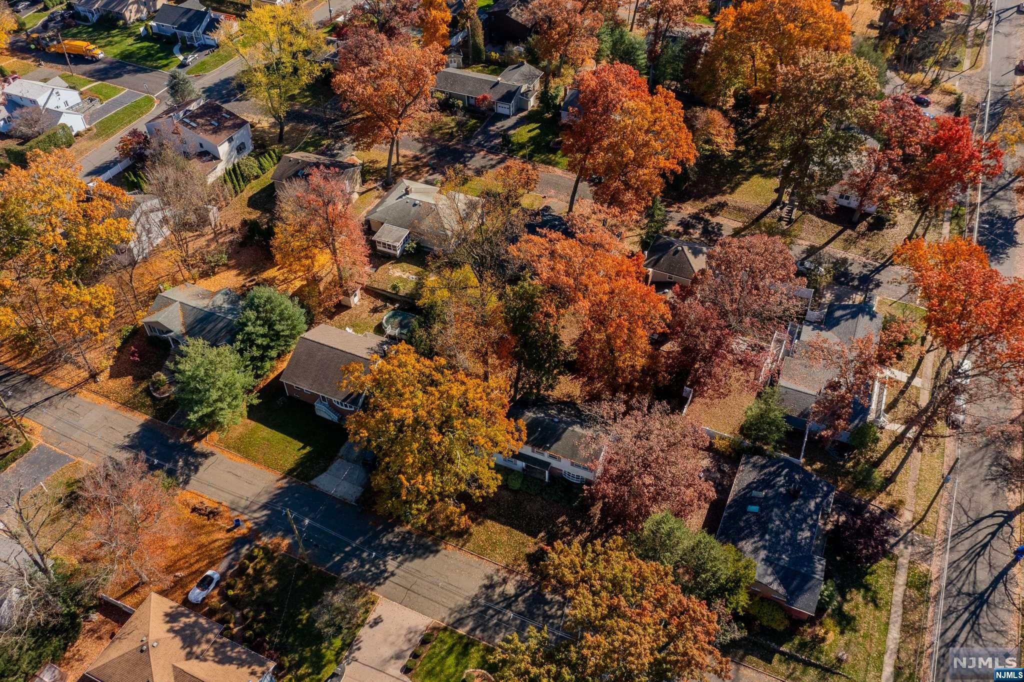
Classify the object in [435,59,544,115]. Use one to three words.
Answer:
house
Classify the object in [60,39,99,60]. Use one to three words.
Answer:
truck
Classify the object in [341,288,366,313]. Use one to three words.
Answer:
shed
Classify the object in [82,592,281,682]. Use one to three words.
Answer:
house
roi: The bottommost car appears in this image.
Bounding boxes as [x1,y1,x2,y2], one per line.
[317,651,352,682]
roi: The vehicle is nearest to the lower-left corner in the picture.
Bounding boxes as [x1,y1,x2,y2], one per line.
[184,566,221,605]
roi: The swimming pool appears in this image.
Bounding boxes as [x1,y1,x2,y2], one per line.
[384,309,416,335]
